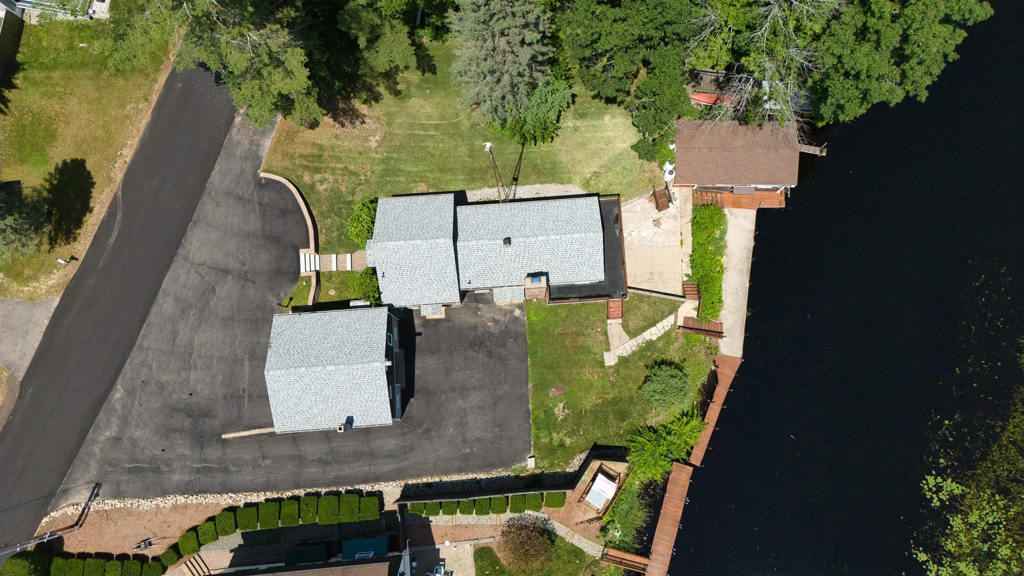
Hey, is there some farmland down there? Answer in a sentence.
No, there's no farmland in this view.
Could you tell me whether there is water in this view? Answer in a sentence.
Yes, water shows up in the scene.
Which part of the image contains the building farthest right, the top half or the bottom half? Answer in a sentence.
You can find the building farthest right in the top half.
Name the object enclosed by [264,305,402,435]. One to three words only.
building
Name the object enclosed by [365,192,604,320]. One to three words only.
house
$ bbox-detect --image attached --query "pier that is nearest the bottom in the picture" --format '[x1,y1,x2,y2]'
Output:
[646,462,693,576]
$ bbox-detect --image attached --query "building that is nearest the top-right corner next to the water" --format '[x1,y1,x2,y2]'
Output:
[670,119,801,197]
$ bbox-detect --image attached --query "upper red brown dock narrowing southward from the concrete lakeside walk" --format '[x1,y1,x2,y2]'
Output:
[689,355,744,468]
